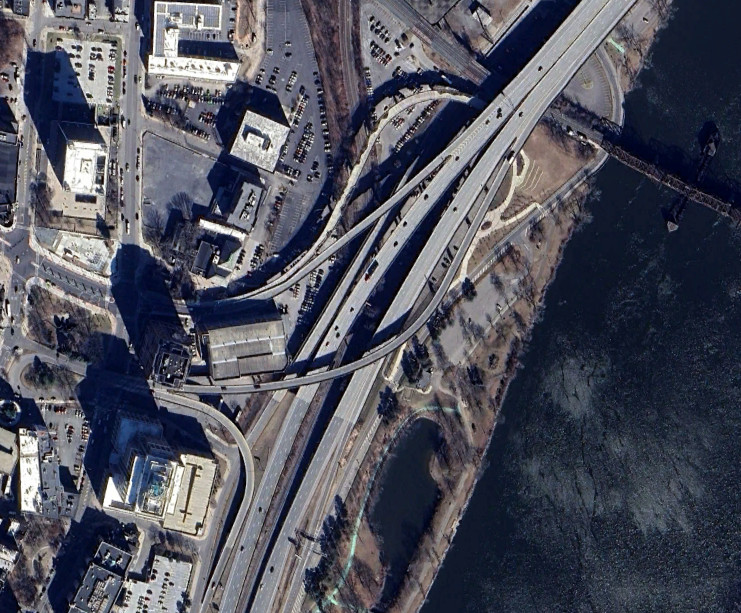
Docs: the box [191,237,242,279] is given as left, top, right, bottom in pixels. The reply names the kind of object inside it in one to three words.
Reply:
house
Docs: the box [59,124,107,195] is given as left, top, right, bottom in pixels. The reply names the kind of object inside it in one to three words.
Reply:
building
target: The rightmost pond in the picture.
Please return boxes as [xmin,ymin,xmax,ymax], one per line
[371,418,441,613]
